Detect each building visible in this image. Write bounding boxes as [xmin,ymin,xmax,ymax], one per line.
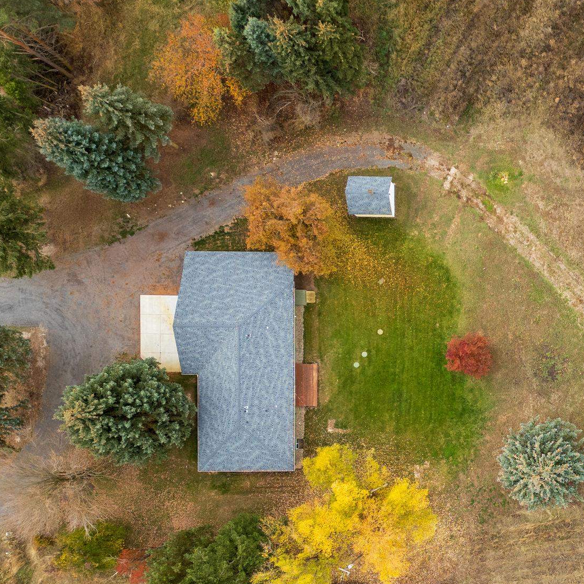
[173,251,296,473]
[346,177,396,217]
